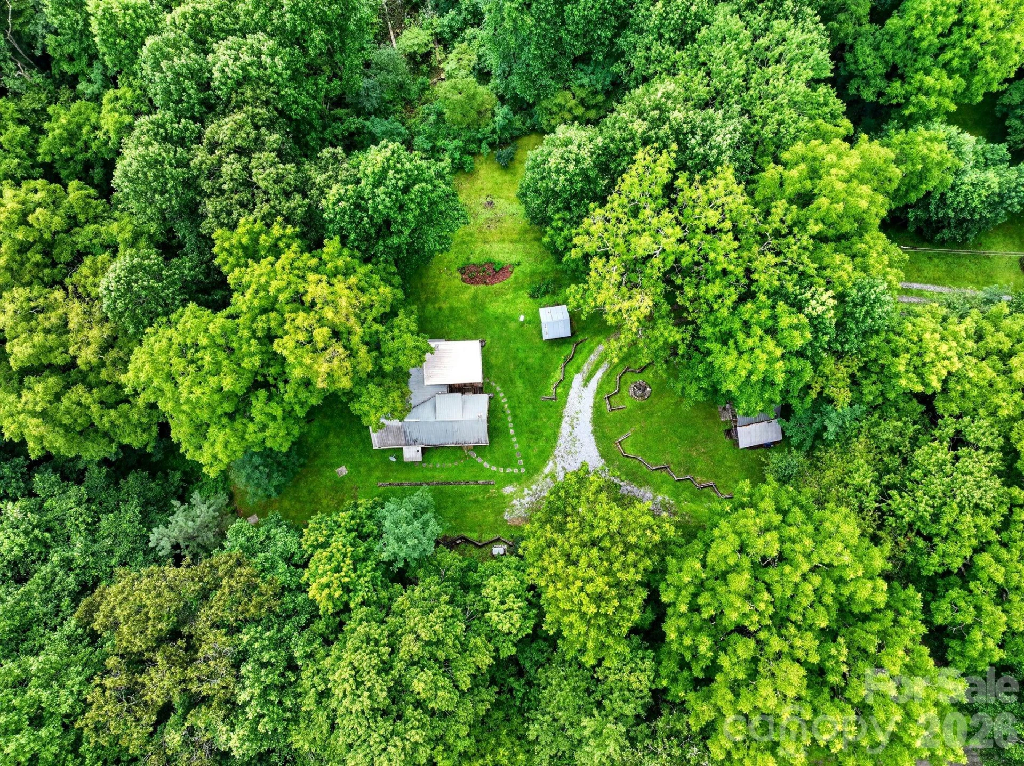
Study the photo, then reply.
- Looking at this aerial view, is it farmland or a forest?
forest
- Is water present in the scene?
No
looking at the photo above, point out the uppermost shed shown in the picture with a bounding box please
[539,305,571,343]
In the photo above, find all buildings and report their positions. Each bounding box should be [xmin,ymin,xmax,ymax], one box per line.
[539,305,571,343]
[734,401,782,448]
[366,339,492,461]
